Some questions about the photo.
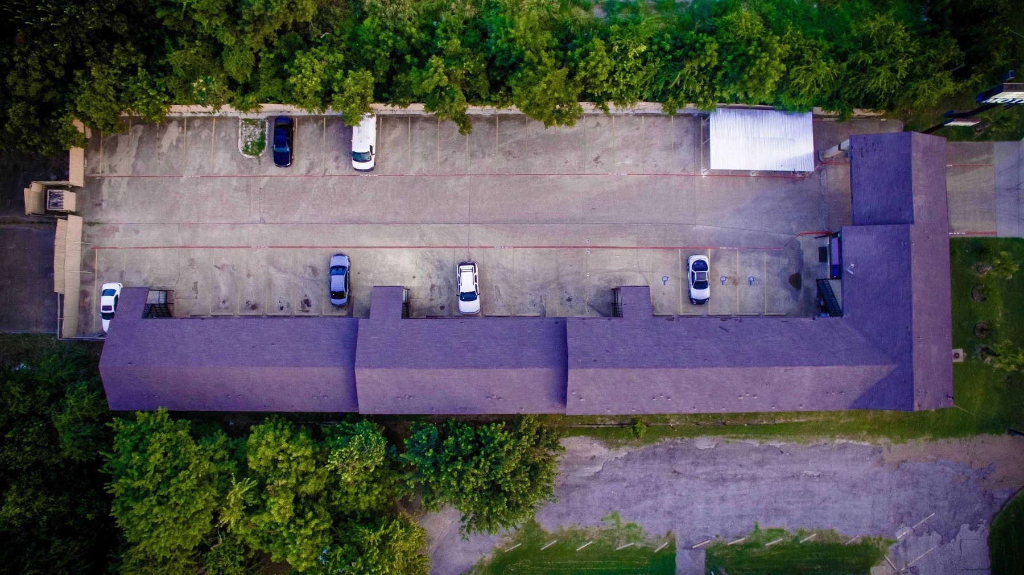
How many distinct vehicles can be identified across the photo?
6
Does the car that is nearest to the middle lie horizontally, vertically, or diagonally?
vertically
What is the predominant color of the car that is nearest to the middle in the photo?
white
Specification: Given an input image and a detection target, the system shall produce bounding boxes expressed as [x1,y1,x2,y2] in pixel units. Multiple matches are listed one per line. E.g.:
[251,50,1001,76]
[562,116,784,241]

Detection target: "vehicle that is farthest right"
[686,255,710,304]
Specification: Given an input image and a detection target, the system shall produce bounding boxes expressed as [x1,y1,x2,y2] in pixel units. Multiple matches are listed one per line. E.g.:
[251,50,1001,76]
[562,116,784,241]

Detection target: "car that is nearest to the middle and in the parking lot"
[457,262,481,313]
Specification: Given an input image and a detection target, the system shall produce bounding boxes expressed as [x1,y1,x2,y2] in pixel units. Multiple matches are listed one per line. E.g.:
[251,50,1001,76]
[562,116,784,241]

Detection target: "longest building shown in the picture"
[98,131,954,416]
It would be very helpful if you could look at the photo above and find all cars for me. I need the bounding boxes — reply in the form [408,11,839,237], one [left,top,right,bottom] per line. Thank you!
[686,255,710,304]
[328,255,351,305]
[457,262,481,313]
[272,118,296,167]
[100,282,124,332]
